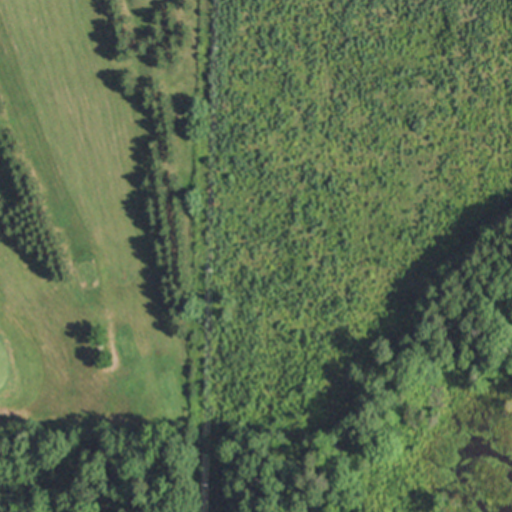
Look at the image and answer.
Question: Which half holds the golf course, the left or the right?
left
